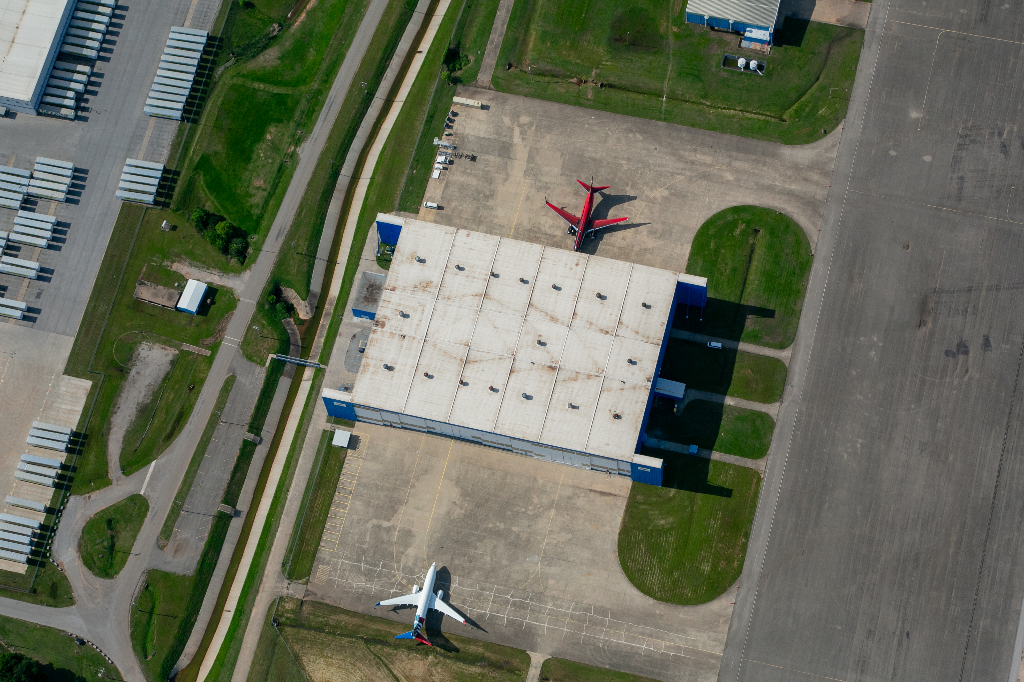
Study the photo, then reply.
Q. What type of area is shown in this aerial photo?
airport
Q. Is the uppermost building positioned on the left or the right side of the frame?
right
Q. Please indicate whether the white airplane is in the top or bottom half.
bottom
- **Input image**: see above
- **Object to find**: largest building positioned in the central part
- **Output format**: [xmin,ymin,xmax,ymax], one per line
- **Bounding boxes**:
[321,213,708,486]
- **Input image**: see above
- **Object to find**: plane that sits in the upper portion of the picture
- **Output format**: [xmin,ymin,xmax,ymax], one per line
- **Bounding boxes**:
[546,178,630,253]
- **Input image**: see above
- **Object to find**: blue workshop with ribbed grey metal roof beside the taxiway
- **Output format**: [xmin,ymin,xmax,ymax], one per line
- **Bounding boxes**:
[685,0,781,44]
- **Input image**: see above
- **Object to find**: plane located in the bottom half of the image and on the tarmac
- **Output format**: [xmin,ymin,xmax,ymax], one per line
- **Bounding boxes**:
[375,563,466,645]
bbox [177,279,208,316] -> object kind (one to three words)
shed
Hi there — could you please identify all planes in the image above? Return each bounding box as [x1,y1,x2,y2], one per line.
[546,178,630,253]
[375,563,466,645]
